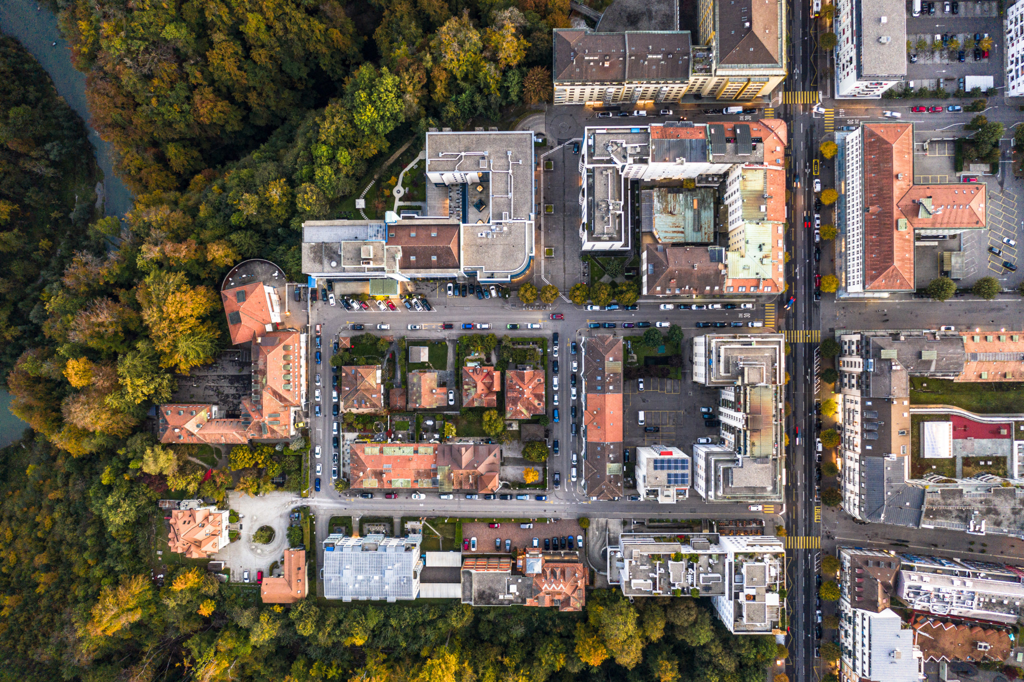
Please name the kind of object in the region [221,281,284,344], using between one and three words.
house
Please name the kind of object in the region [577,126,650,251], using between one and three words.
building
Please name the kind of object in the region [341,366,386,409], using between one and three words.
house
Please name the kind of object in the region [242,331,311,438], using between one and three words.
building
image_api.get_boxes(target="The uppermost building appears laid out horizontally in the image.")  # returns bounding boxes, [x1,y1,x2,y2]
[595,0,675,32]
